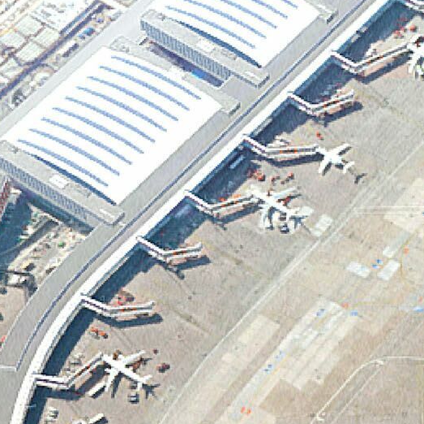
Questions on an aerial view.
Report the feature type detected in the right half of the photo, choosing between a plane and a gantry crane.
plane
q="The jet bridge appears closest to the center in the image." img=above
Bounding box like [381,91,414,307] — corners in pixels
[186,196,258,221]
